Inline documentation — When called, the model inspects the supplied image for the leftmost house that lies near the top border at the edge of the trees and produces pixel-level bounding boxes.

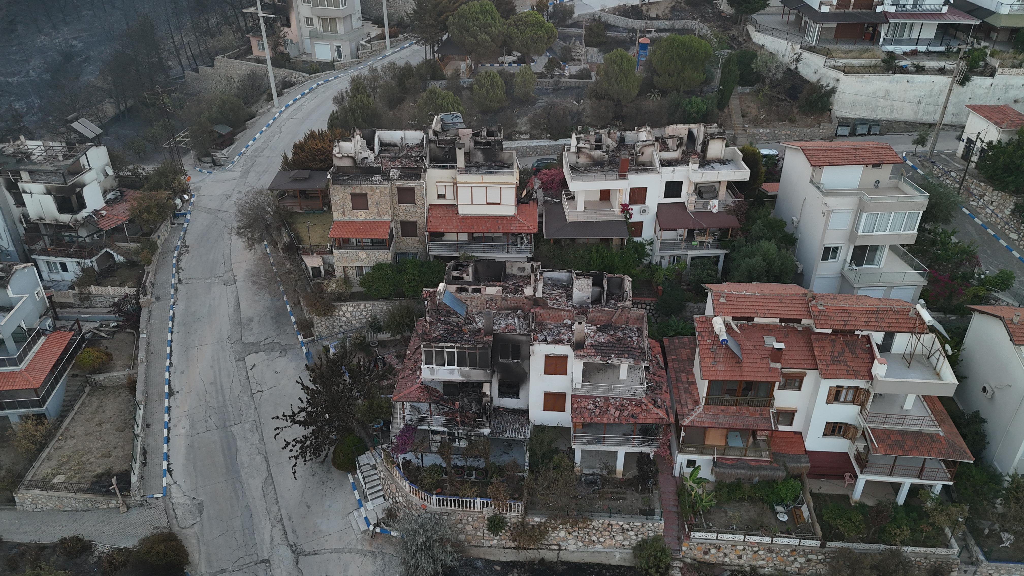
[238,0,302,57]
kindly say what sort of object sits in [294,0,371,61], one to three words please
house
